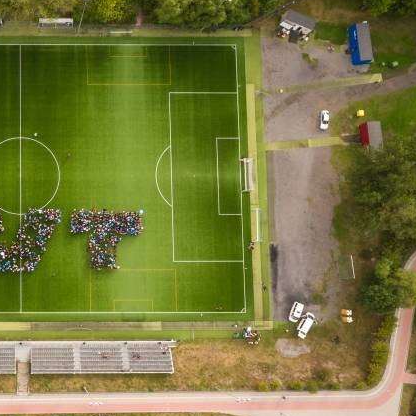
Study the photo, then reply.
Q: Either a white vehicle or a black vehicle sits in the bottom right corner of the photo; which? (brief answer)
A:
white vehicle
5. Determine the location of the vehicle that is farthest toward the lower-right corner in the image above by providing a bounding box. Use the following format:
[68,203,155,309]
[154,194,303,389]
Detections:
[298,314,319,340]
